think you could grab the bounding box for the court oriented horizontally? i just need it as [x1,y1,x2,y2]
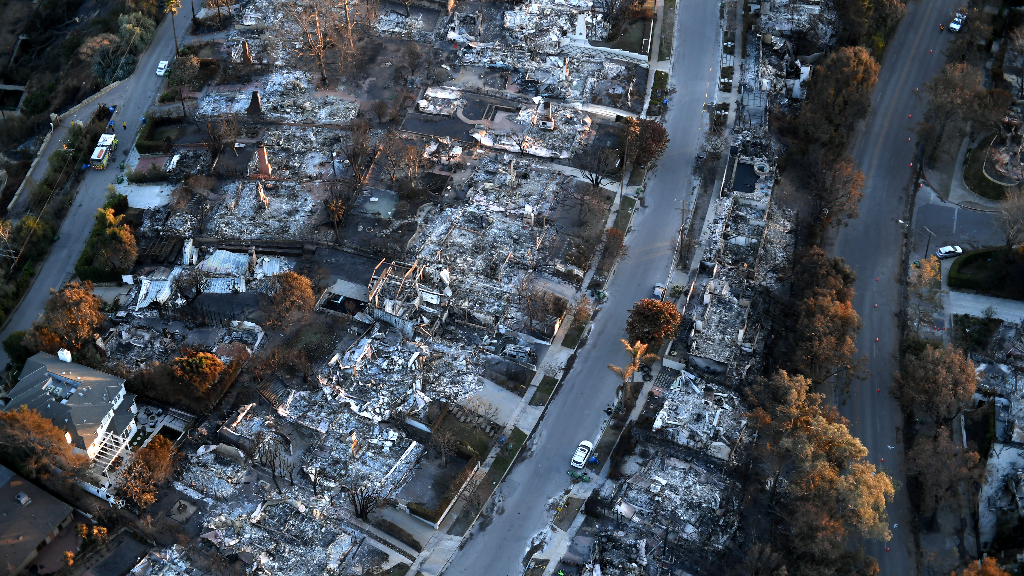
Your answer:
[402,112,474,141]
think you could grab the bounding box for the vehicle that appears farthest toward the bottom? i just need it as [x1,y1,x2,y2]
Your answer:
[572,442,591,468]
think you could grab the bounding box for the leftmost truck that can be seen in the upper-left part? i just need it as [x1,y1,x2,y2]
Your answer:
[90,131,116,172]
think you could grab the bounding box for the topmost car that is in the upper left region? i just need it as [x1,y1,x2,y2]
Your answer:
[156,60,169,75]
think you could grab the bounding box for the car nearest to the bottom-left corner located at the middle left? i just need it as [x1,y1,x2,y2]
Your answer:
[107,310,136,323]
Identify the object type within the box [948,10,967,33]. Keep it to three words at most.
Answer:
vehicle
